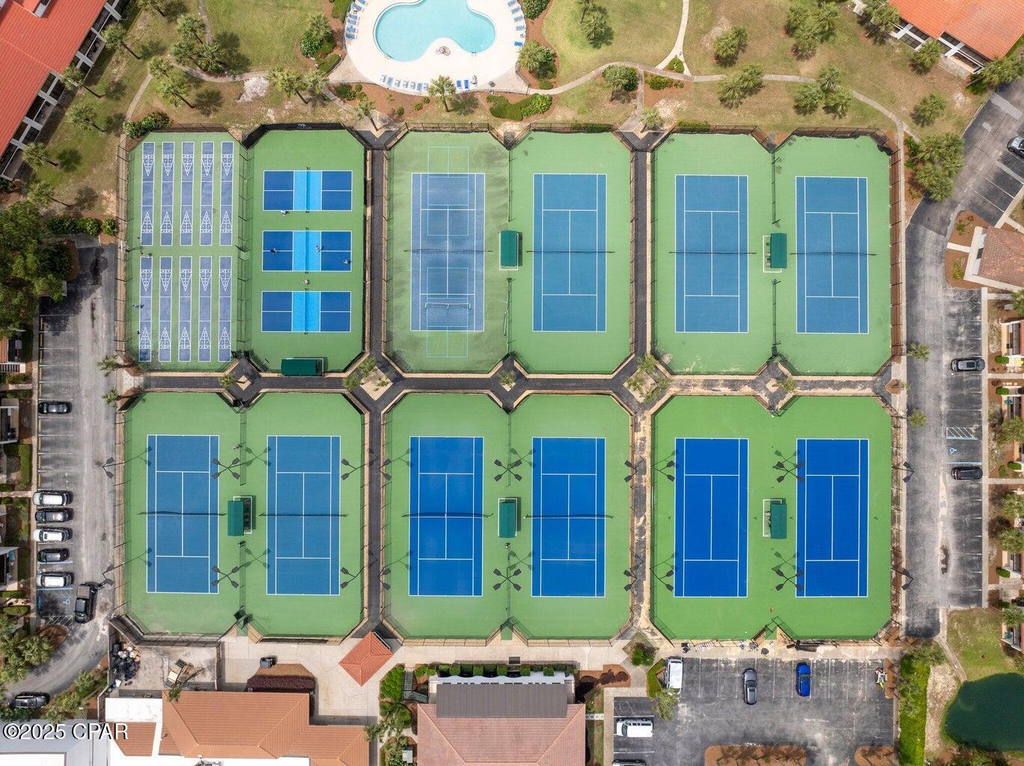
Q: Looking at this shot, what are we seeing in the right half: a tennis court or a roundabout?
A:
tennis court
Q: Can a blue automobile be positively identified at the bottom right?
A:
Yes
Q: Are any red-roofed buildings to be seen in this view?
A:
Yes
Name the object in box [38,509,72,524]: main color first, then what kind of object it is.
gray car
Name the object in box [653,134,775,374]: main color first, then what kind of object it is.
green tennis court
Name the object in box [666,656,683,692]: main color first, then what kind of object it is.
white vehicle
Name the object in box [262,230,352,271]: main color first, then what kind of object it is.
blue sports court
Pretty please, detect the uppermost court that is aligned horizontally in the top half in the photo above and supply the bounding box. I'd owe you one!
[263,169,352,211]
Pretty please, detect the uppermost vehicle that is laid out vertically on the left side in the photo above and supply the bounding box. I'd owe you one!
[75,583,95,622]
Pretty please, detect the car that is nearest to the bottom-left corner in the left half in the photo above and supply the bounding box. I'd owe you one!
[13,692,50,709]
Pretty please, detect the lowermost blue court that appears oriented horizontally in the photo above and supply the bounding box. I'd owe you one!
[261,291,351,333]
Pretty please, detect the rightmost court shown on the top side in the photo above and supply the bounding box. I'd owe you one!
[773,135,891,375]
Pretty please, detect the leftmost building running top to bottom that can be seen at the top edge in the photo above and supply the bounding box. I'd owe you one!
[0,38,68,200]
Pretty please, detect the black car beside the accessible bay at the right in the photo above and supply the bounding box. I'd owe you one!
[950,465,983,481]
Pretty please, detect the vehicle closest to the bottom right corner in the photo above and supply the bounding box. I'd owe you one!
[796,663,812,695]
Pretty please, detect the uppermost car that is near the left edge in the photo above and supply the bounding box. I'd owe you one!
[40,400,73,415]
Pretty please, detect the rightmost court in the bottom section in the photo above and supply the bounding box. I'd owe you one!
[773,397,892,641]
